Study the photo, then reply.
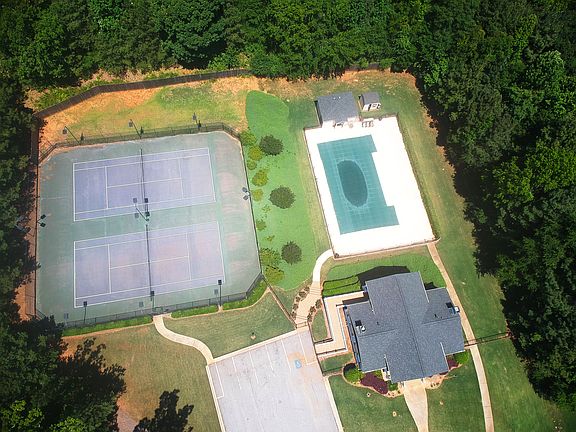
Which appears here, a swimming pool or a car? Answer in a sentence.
The image shows a swimming pool.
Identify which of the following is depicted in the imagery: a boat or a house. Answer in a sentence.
There is a house in the scene.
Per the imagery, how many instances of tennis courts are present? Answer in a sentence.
Looking from above, you can make out 2 tennis courts.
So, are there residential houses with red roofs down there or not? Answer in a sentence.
No, no residential house with a red roof is visible in the view.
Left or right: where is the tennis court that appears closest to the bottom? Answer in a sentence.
You can find the tennis court that appears closest to the bottom on the left side of the picture.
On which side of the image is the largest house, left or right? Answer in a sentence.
It is on the right.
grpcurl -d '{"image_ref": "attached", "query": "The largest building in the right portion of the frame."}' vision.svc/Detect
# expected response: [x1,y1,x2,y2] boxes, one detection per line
[343,272,466,383]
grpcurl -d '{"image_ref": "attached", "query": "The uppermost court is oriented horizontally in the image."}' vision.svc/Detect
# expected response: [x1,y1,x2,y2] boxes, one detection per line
[74,147,215,221]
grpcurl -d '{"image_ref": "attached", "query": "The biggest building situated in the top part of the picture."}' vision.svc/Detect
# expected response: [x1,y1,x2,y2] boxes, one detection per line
[315,93,359,129]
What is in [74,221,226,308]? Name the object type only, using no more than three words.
tennis court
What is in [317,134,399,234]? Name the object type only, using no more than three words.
swimming pool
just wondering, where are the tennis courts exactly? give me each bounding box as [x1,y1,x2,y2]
[74,147,215,221]
[74,221,226,308]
